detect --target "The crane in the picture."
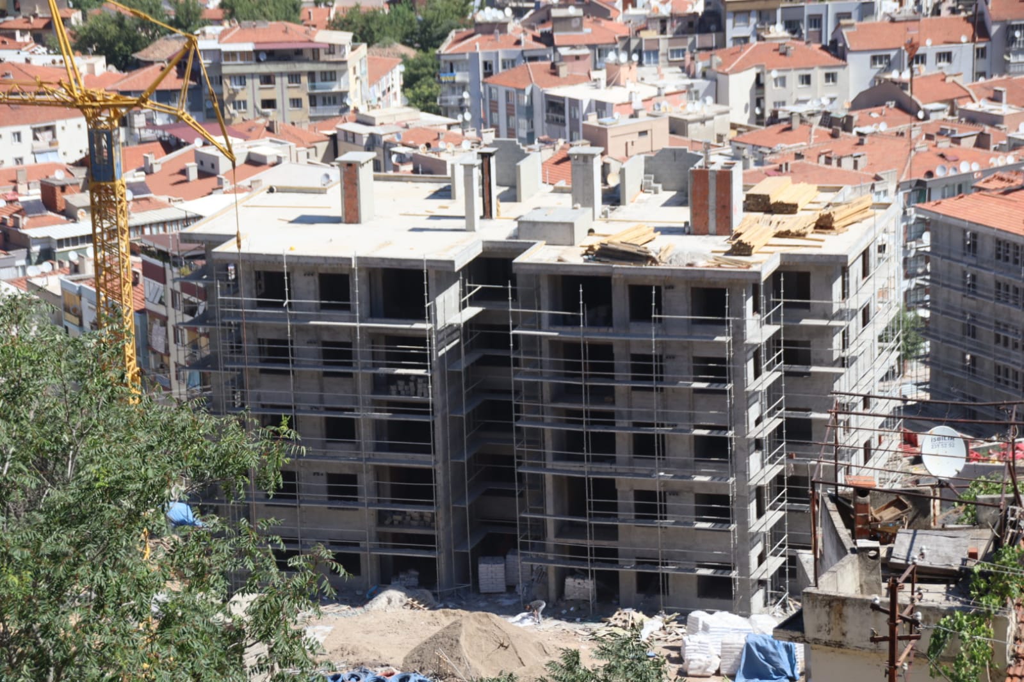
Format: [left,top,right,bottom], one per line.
[0,0,255,626]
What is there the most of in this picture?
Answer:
buildings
